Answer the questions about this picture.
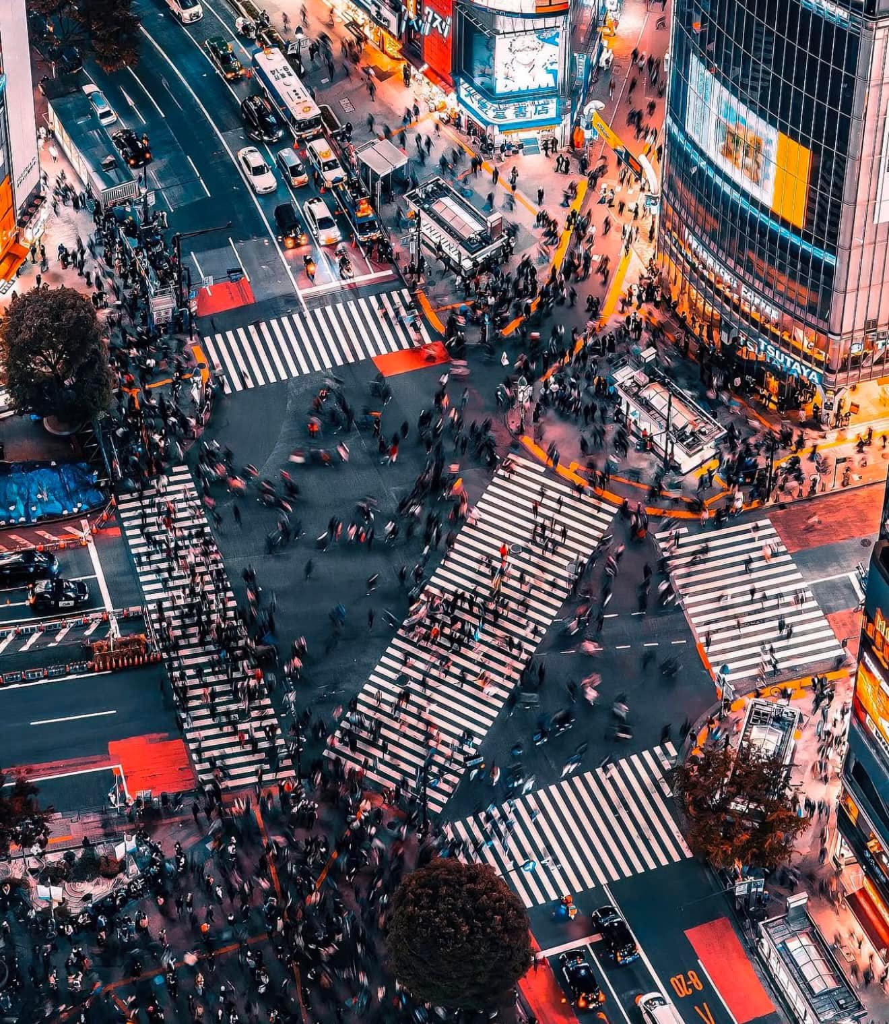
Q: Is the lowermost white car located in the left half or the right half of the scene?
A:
right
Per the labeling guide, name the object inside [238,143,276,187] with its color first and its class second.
white car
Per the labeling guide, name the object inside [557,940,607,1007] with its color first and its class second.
black car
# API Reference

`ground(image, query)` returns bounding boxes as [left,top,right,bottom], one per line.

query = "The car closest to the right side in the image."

[632,981,682,1024]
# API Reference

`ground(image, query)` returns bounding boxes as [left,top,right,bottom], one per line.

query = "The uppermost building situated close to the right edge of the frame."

[658,0,889,414]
